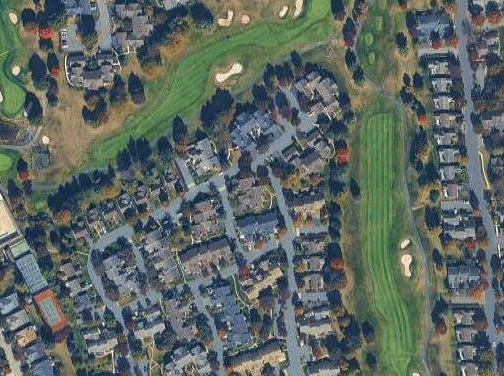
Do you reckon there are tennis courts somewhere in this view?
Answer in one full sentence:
Yes, I can see a tennis court in this picture.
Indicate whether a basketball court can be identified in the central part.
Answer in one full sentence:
No, no basketball court appears in the central part.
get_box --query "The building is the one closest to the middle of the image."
[233,177,272,215]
